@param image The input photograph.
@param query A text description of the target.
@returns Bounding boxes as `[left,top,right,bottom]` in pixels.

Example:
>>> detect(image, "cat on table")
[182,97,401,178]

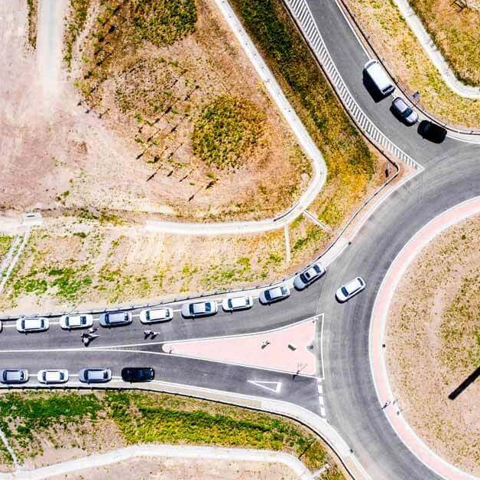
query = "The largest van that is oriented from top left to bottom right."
[362,57,396,98]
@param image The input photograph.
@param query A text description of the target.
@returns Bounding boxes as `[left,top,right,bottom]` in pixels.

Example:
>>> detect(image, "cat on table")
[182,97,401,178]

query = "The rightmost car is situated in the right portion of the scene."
[416,119,447,143]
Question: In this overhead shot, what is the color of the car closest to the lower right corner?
white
